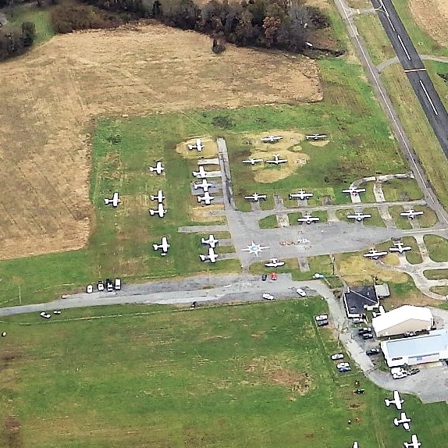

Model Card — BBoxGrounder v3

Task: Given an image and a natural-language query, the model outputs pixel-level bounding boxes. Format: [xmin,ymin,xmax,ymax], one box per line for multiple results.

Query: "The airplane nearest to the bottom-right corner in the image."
[404,435,425,448]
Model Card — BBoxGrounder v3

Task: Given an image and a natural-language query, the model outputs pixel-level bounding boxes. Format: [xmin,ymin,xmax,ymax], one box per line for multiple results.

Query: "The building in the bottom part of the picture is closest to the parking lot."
[344,284,390,319]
